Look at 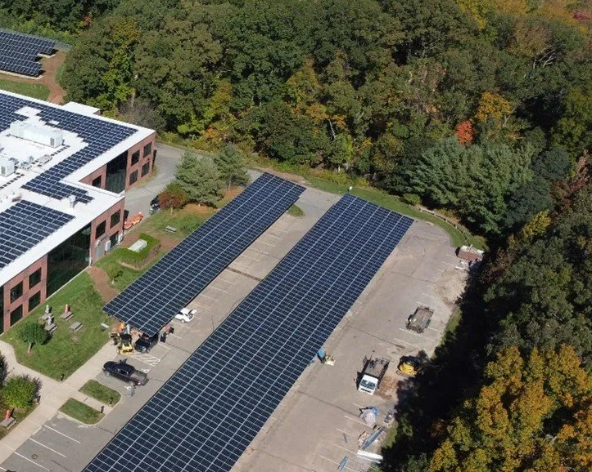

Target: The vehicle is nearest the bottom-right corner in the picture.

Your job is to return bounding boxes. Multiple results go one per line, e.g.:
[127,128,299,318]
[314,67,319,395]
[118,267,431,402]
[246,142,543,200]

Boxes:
[398,355,436,376]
